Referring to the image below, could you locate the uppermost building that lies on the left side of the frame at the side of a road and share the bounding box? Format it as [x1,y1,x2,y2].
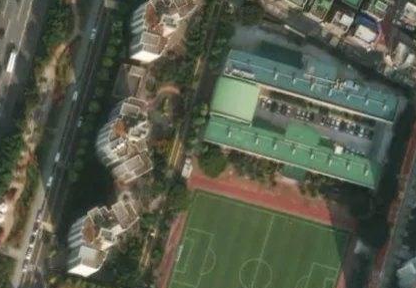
[128,0,198,64]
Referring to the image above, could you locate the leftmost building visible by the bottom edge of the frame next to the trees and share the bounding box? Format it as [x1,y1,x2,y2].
[67,200,140,275]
